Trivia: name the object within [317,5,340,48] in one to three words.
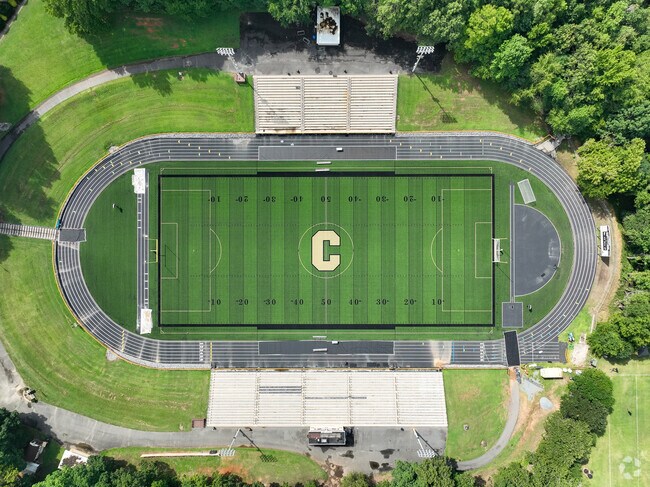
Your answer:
building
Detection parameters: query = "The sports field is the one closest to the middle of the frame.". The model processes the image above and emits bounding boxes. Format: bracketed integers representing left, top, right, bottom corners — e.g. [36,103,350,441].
[79,160,574,340]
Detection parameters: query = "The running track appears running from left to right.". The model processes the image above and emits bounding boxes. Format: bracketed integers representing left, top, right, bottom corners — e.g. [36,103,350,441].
[55,132,597,368]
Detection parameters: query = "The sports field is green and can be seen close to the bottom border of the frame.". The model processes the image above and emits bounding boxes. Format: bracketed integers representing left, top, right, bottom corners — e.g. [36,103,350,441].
[592,357,650,487]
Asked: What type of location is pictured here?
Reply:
sports ground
